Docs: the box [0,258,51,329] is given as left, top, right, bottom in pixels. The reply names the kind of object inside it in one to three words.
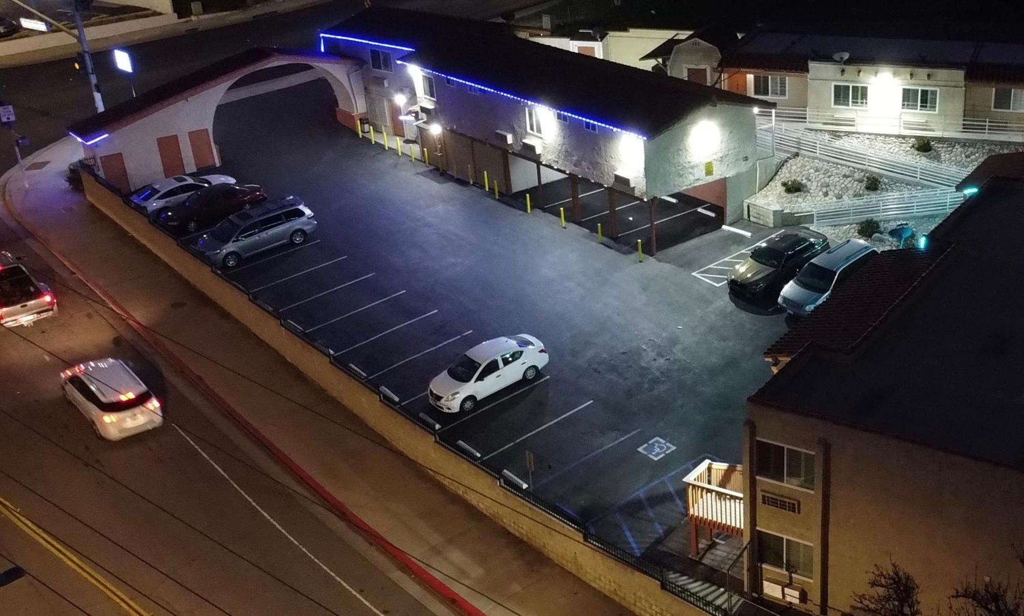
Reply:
truck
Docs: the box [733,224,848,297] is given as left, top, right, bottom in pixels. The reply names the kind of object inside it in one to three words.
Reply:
car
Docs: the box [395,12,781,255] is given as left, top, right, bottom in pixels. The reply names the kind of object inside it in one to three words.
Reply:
building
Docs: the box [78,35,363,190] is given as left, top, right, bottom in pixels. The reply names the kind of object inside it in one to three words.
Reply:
building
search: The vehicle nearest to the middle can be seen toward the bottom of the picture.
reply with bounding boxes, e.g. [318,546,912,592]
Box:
[416,333,547,415]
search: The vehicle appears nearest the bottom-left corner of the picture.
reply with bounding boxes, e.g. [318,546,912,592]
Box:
[59,357,155,438]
